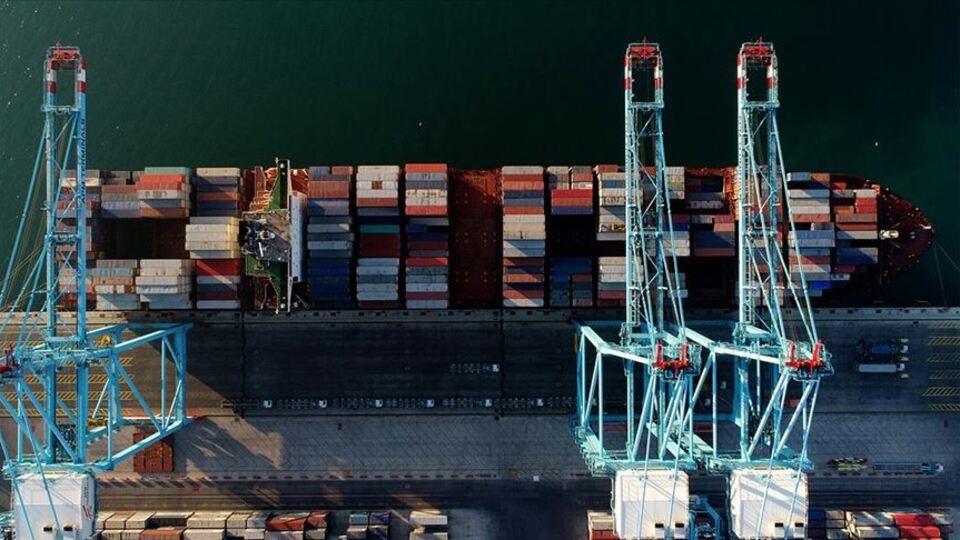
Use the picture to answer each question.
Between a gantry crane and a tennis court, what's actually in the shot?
gantry crane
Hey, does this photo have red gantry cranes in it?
No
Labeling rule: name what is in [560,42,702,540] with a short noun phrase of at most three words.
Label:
container crane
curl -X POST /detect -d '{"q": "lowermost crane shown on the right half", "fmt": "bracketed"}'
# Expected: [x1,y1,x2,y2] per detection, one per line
[686,487,722,540]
